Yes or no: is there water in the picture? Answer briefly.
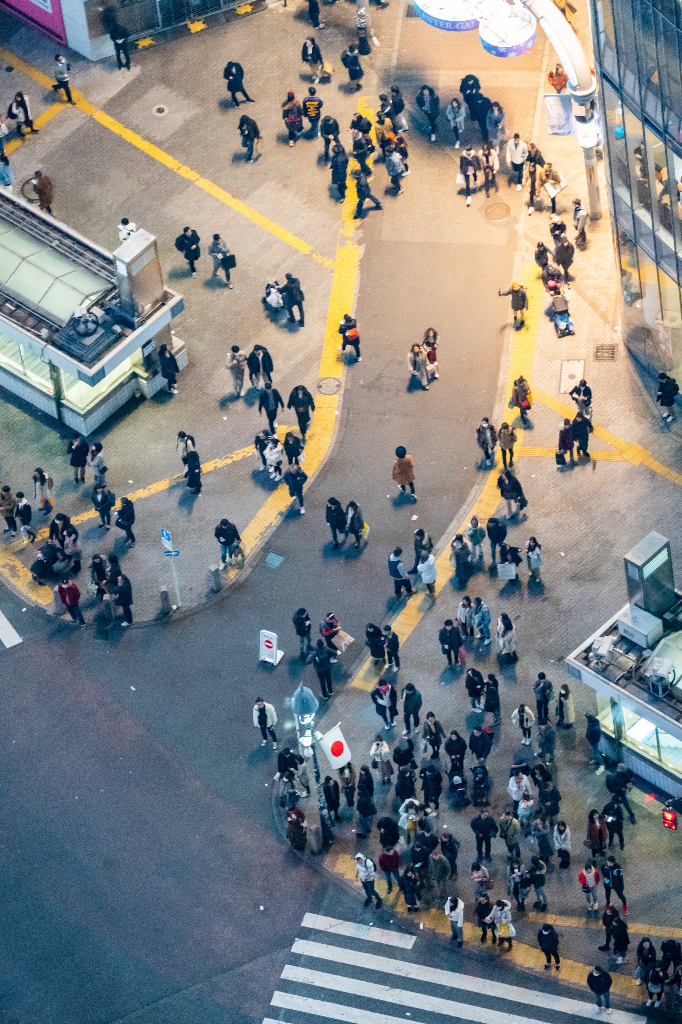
No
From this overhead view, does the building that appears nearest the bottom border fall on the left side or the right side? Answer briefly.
right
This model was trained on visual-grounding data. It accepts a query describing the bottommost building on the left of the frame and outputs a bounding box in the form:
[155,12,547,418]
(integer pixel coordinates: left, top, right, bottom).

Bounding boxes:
[0,189,200,436]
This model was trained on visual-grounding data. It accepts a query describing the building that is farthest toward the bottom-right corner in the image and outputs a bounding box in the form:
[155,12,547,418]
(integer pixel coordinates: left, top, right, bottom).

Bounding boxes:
[560,527,682,800]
